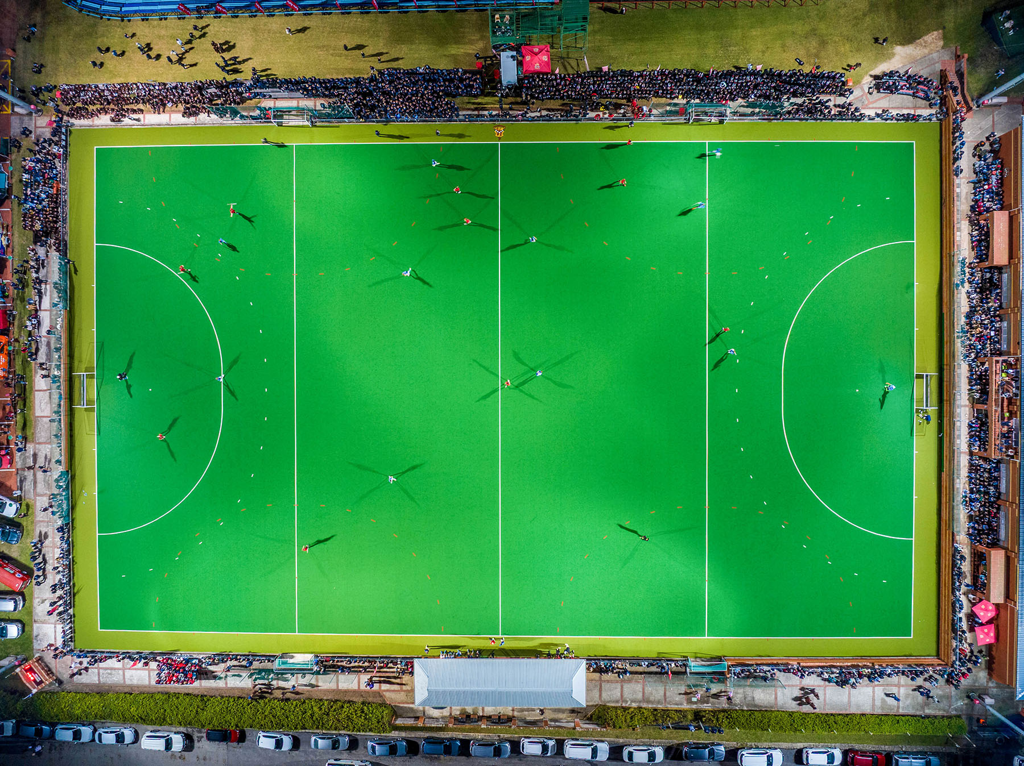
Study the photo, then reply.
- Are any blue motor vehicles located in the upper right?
No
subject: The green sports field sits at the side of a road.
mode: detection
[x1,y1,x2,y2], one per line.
[68,121,942,658]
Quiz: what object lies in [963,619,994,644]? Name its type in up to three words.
gazebo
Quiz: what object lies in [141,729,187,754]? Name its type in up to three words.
car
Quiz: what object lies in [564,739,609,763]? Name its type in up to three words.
car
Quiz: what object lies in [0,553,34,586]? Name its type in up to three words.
van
